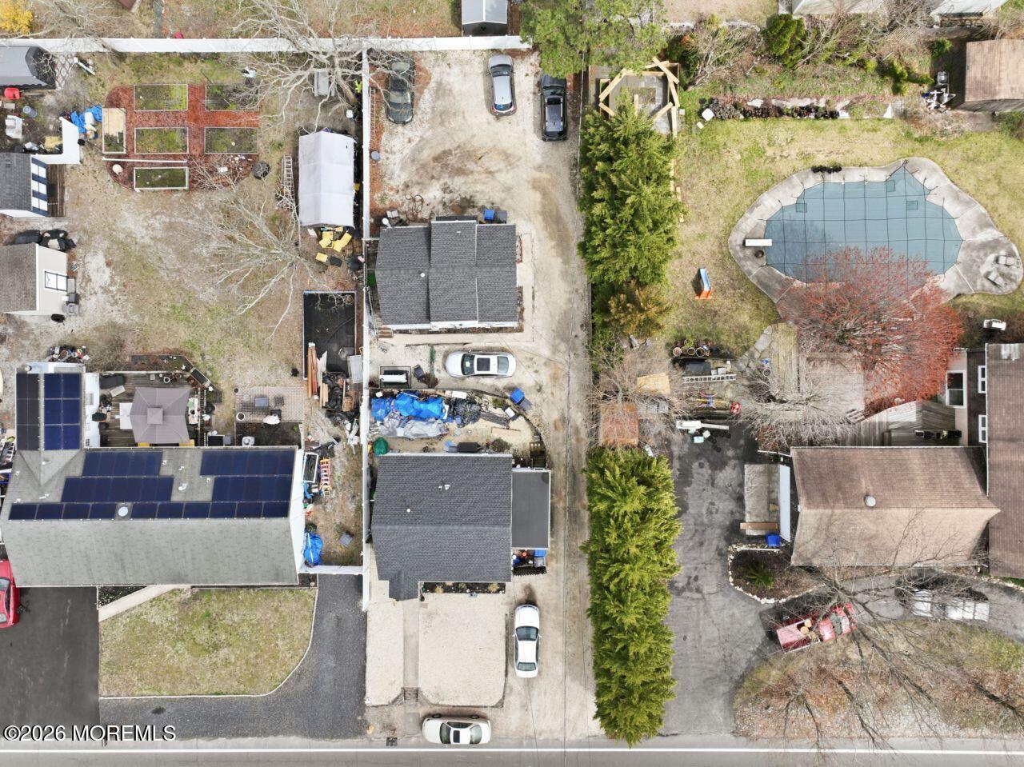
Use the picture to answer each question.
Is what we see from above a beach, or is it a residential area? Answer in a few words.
residential area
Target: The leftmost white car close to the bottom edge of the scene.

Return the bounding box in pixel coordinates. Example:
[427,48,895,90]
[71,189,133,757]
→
[423,710,491,748]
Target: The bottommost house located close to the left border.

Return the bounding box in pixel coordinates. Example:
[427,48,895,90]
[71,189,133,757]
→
[0,372,304,588]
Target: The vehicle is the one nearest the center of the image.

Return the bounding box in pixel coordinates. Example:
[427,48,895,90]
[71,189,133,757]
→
[446,348,517,381]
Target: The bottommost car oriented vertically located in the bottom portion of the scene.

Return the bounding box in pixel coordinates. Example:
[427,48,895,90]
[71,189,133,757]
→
[510,602,543,676]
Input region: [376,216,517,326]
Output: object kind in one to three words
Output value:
house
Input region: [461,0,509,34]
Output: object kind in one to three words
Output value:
shed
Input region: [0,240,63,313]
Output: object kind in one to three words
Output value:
shed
